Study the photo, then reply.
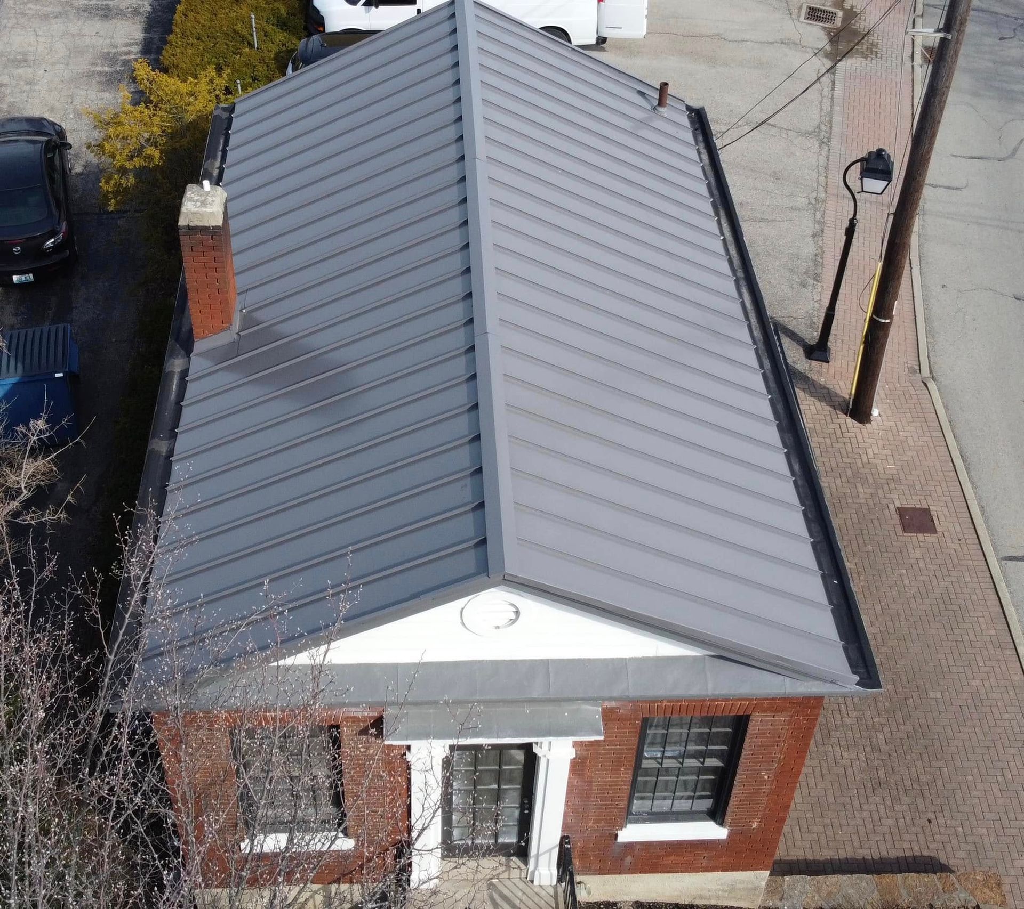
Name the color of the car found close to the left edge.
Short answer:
black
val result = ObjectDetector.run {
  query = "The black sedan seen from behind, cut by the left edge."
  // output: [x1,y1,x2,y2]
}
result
[0,118,83,283]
